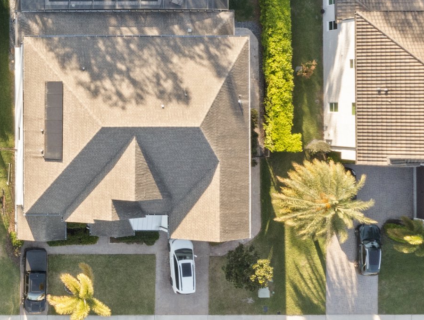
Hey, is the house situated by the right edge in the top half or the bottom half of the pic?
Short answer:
top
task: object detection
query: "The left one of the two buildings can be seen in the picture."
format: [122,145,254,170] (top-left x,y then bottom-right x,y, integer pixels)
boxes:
[15,9,252,241]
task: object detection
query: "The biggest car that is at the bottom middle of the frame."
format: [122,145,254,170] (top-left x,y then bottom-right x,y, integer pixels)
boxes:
[166,239,196,295]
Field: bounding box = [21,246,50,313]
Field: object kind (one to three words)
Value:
truck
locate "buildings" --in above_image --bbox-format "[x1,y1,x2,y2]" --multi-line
[15,9,252,241]
[324,0,424,219]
